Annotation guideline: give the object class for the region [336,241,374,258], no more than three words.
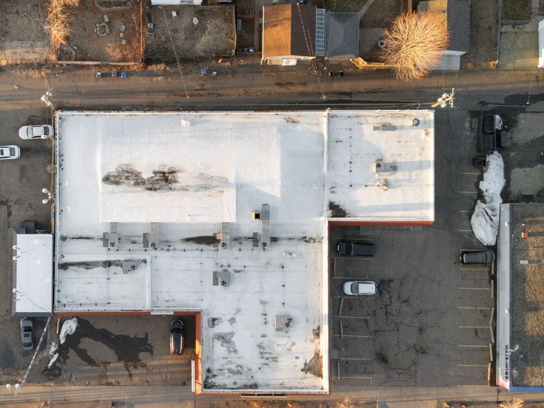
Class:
car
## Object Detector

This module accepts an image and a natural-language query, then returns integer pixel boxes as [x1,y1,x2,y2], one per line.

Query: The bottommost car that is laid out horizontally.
[343,280,377,296]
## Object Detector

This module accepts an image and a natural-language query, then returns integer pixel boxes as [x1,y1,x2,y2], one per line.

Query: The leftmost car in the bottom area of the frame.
[18,317,35,350]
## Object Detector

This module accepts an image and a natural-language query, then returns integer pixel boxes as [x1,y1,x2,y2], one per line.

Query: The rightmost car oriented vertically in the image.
[169,319,185,354]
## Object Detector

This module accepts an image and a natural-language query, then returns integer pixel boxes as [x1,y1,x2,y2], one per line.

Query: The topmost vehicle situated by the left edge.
[20,124,51,139]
